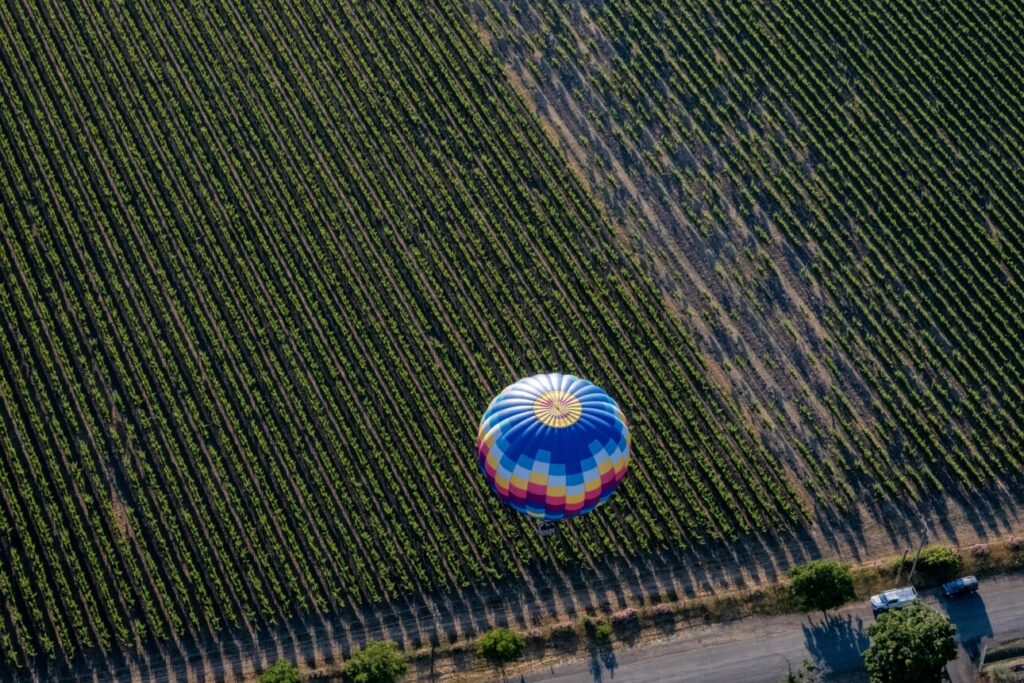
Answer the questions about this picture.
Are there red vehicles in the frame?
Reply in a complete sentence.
No, this view has no red vehicle in it.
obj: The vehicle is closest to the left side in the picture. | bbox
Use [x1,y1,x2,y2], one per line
[867,588,920,615]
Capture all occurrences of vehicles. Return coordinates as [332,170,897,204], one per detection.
[940,577,982,601]
[867,588,920,615]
